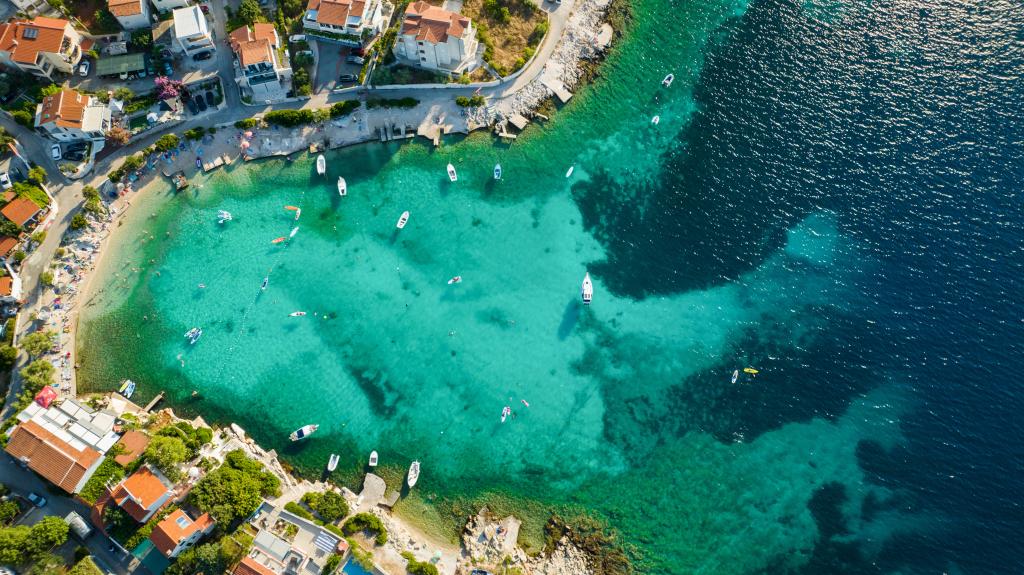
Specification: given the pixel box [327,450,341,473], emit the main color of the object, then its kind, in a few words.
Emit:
white boat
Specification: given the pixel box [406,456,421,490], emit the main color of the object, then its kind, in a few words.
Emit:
white boat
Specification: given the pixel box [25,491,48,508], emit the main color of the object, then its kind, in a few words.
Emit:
blue car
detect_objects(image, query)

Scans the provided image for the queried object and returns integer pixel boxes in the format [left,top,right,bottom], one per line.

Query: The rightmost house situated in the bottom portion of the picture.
[229,522,349,575]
